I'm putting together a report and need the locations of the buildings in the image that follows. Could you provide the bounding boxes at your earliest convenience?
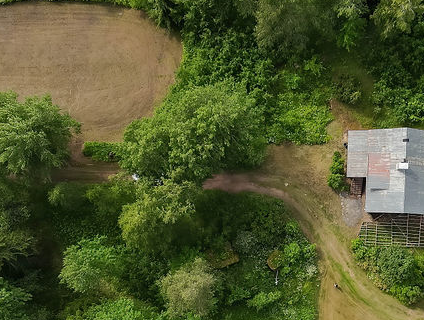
[267,251,281,270]
[346,127,424,215]
[208,246,240,268]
